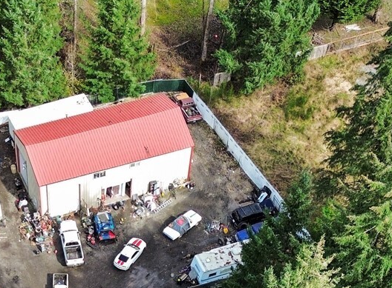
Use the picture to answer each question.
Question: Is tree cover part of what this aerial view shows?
Yes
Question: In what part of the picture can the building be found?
left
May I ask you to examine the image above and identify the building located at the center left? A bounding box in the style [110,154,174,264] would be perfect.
[9,95,195,219]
